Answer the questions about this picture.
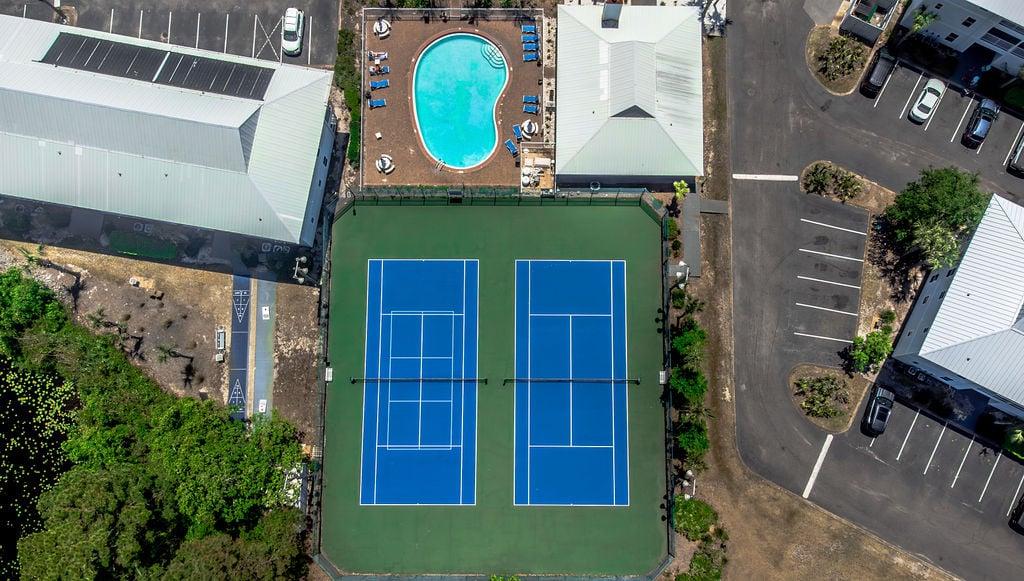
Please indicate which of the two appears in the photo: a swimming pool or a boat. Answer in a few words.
swimming pool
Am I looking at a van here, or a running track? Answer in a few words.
van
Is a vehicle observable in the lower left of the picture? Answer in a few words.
No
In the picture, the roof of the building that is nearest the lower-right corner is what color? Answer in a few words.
white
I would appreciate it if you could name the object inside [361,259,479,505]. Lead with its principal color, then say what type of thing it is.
blue tennis court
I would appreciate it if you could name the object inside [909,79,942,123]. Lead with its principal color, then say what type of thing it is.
white car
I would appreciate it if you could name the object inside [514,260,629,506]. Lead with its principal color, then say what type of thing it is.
blue tennis court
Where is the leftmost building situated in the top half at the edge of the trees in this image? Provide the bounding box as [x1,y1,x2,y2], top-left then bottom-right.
[0,16,350,248]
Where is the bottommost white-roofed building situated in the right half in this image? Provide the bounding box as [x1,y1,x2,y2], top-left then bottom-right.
[892,192,1024,418]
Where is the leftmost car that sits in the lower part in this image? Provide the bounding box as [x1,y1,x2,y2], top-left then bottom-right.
[863,387,898,438]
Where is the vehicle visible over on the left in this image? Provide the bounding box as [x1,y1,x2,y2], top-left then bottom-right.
[280,10,304,56]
